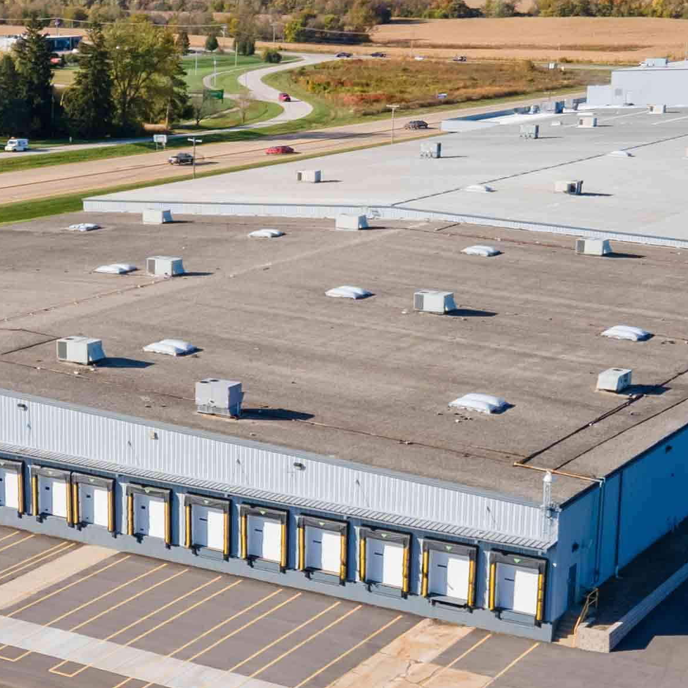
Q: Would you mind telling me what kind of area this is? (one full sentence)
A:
This looks like an industrial area.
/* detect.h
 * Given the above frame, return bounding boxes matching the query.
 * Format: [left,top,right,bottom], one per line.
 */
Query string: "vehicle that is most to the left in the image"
[6,136,28,151]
